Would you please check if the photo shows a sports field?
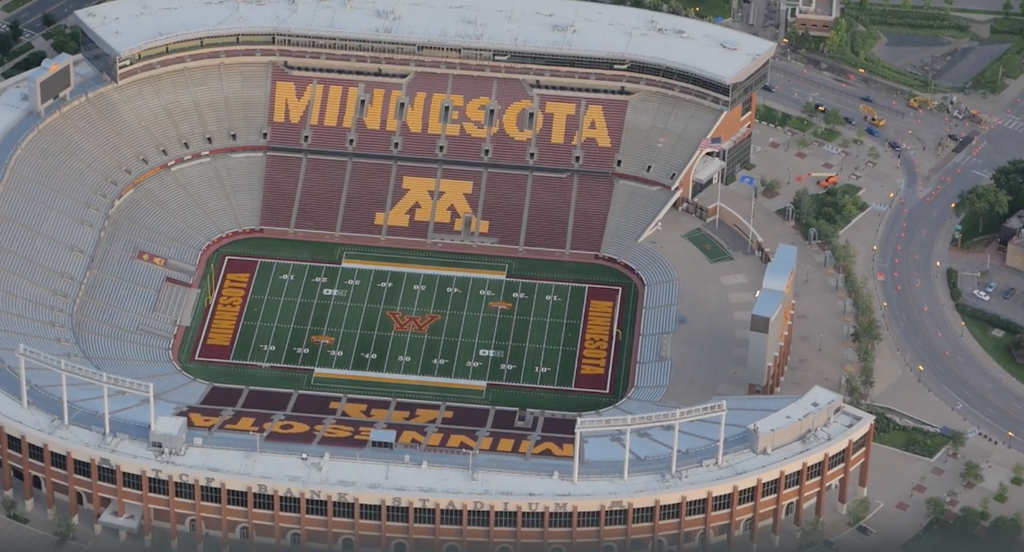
Yes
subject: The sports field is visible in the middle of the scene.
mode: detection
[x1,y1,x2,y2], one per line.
[178,238,637,414]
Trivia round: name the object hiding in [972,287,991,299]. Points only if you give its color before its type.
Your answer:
white vehicle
